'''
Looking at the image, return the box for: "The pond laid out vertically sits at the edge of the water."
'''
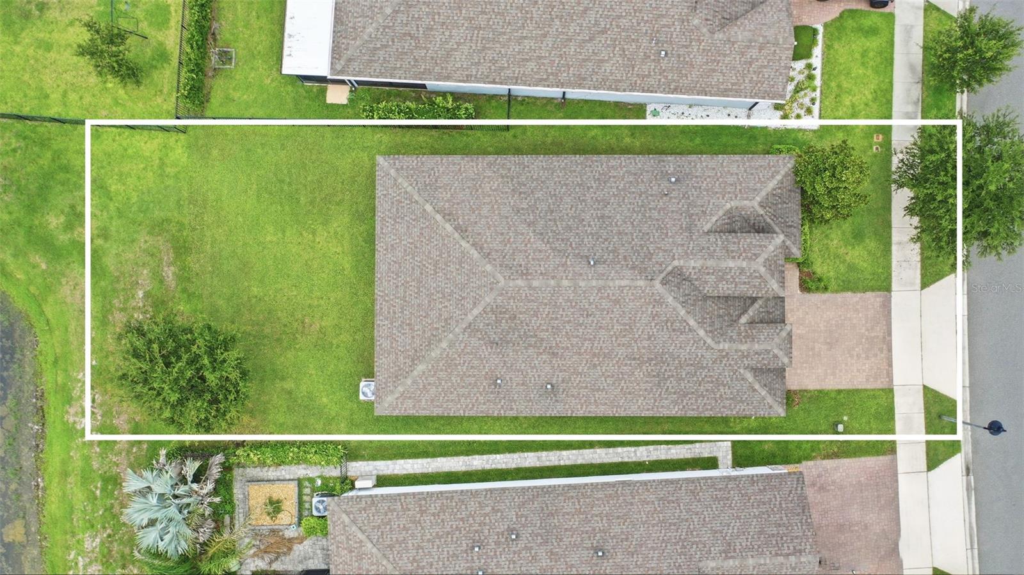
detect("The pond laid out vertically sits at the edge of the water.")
[0,294,45,575]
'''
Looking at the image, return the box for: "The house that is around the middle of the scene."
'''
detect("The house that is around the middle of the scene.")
[375,155,801,416]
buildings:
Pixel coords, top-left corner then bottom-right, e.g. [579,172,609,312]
[375,155,801,416]
[330,0,799,116]
[327,465,821,575]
